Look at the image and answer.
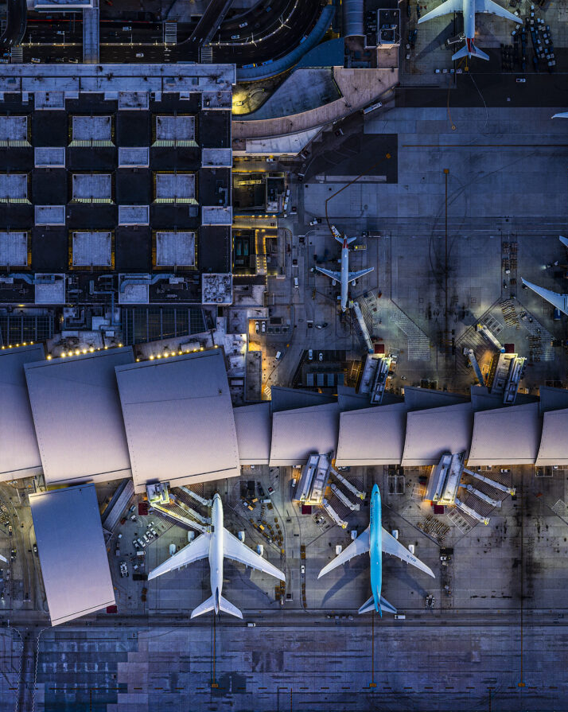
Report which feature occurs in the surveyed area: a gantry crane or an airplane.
airplane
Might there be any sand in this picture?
No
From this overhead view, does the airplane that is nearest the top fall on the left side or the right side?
right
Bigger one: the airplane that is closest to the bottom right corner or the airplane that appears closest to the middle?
the airplane that is closest to the bottom right corner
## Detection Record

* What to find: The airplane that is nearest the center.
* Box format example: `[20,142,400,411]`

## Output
[314,235,373,312]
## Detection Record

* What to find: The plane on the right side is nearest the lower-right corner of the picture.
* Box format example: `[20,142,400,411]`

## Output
[317,483,434,617]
